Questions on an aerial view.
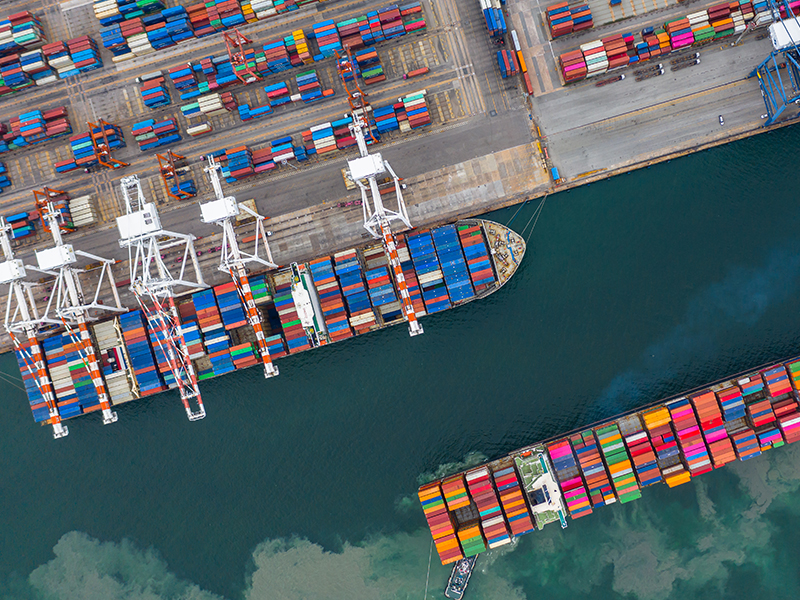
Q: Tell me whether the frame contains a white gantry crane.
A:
Yes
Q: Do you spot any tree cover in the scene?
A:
No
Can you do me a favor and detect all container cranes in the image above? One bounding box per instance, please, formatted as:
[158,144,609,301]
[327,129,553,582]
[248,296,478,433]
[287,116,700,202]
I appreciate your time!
[35,198,138,425]
[345,89,381,145]
[114,171,219,421]
[332,40,369,99]
[199,148,288,379]
[223,25,264,86]
[86,115,132,170]
[31,184,80,236]
[345,105,421,338]
[155,147,199,201]
[0,212,91,439]
[737,0,800,131]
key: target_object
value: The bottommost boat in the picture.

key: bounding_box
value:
[447,552,481,600]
